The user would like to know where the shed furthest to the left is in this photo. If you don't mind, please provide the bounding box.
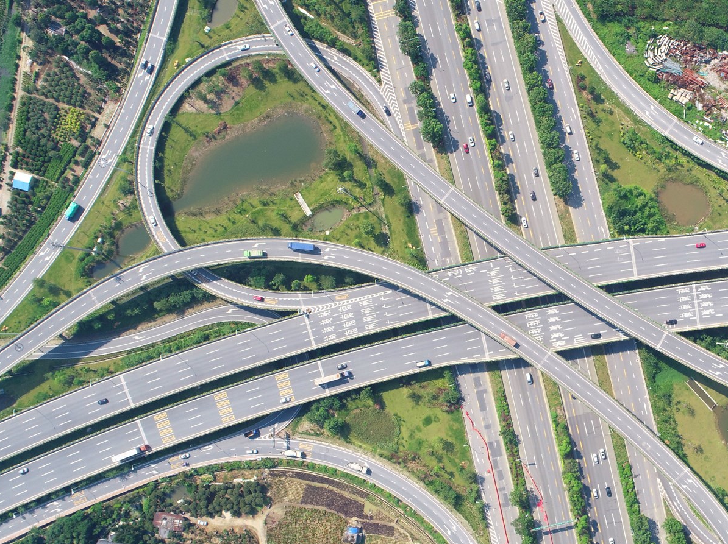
[12,171,37,192]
